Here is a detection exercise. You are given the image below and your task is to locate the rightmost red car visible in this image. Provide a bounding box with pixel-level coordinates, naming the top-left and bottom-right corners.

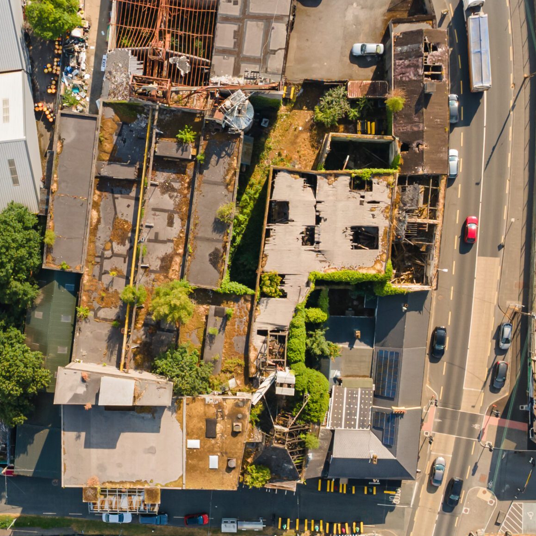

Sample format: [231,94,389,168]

[463,215,479,243]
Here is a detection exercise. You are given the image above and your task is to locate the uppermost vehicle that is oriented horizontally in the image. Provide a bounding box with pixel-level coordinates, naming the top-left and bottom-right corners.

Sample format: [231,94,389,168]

[352,42,383,57]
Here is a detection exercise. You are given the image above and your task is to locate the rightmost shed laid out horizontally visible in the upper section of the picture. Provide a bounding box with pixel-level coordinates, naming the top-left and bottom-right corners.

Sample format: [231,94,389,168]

[347,81,387,98]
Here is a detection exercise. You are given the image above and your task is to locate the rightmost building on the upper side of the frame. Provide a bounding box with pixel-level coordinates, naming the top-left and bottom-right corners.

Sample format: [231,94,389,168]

[388,30,449,175]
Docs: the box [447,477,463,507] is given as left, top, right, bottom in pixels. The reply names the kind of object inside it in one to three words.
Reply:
car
